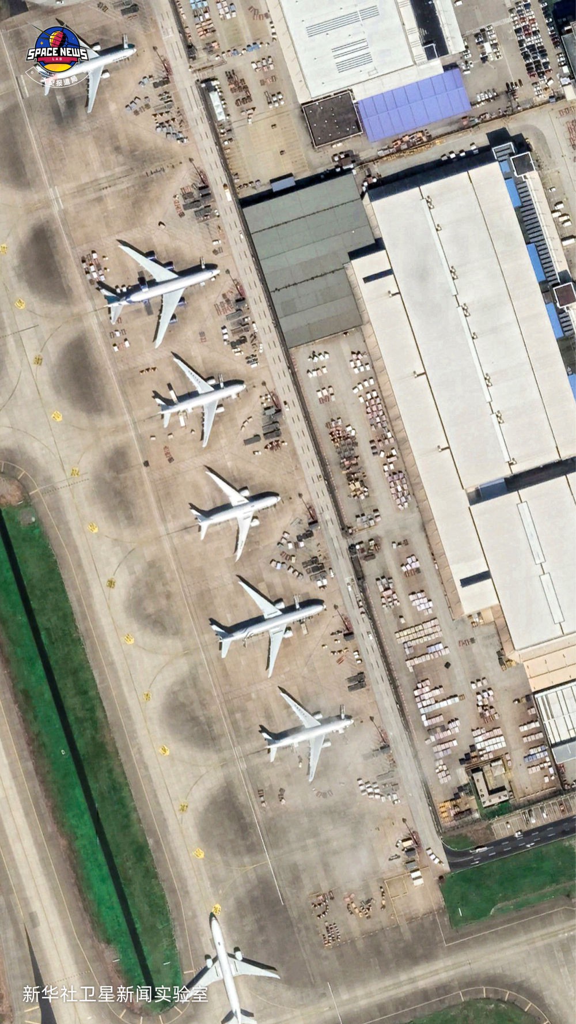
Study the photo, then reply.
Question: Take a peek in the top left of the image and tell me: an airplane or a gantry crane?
airplane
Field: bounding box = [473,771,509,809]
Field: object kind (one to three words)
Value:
building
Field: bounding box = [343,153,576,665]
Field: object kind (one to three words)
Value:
warehouse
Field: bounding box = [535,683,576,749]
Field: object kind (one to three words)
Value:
building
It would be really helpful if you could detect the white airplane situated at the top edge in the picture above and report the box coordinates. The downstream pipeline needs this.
[44,26,136,113]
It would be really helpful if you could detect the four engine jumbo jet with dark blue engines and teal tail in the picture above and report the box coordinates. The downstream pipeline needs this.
[98,245,220,348]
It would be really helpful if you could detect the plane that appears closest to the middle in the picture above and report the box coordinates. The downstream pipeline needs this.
[195,471,280,561]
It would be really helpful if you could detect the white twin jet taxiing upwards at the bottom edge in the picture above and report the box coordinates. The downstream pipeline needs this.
[184,917,281,1024]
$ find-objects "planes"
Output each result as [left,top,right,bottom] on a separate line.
[261,694,354,782]
[98,245,220,348]
[184,917,281,1024]
[156,359,246,447]
[195,471,280,561]
[44,26,136,113]
[215,581,325,677]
